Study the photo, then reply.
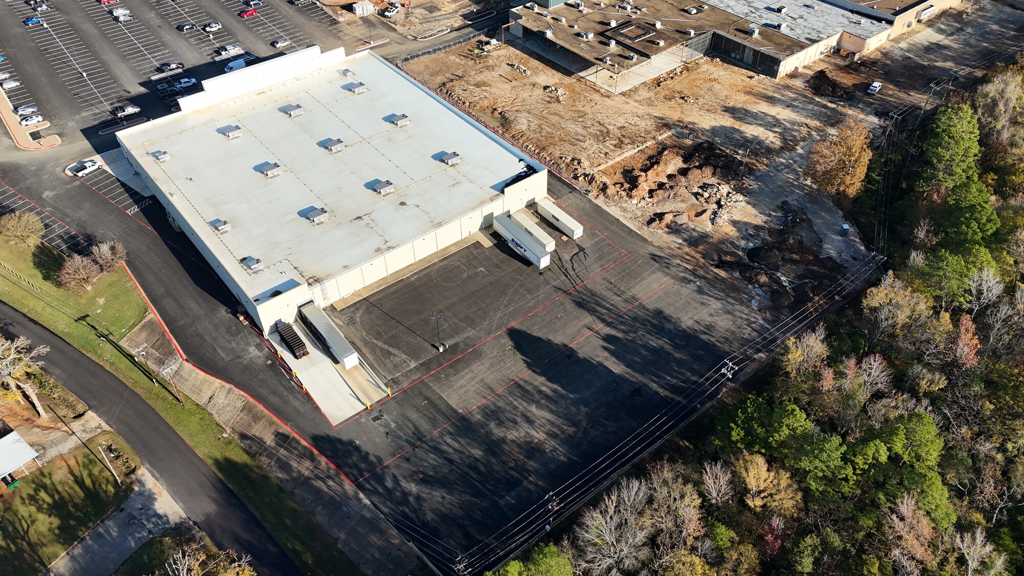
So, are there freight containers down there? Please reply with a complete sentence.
Yes, the picture does show a freight container.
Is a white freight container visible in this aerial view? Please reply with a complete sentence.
Yes, there is a white freight container in the image.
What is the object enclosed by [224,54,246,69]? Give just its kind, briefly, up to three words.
vehicle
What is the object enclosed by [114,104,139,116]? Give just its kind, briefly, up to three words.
vehicle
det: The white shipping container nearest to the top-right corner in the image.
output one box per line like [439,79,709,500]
[537,199,583,240]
